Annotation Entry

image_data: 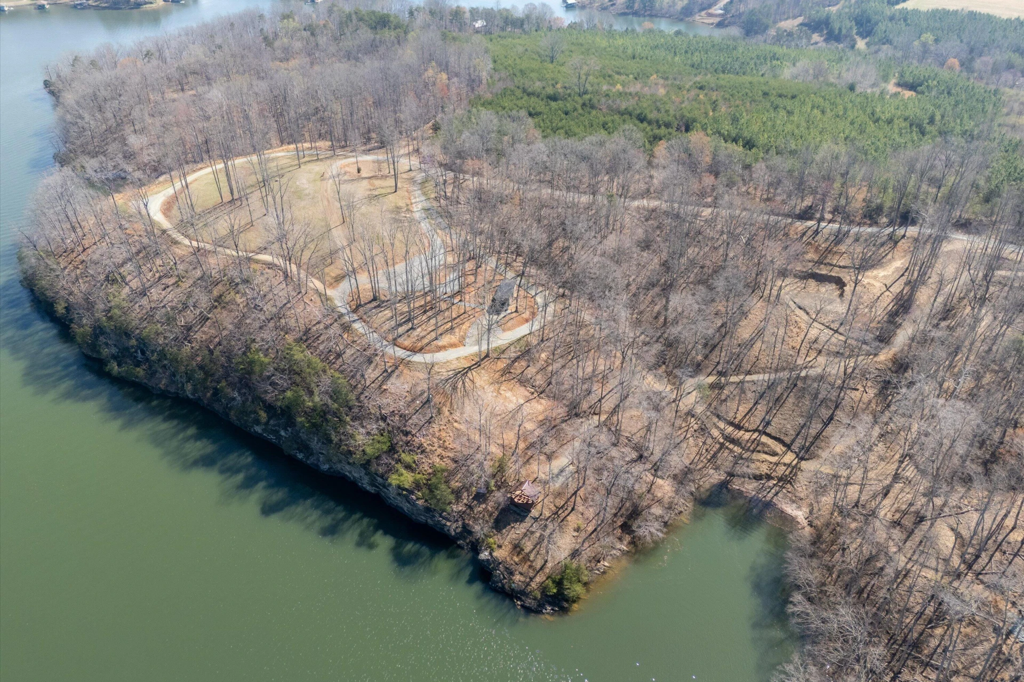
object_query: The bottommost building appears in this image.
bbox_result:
[510,476,541,515]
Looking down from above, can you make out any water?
Yes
